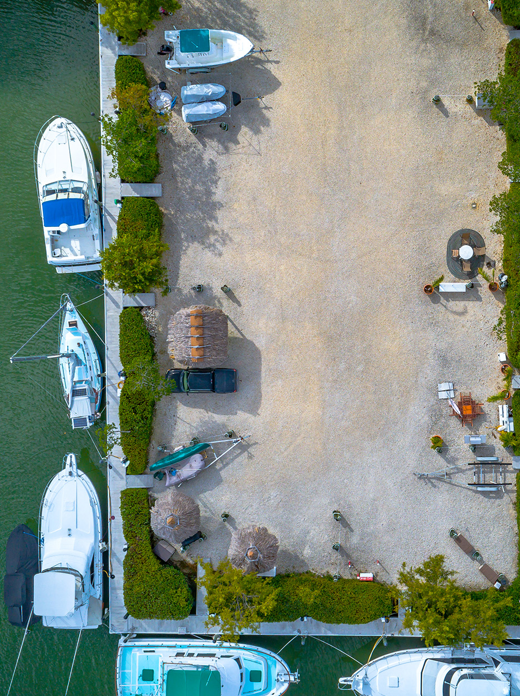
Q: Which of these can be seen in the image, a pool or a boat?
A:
boat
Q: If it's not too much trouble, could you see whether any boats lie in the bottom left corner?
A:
Yes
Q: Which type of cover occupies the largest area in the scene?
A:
paved ground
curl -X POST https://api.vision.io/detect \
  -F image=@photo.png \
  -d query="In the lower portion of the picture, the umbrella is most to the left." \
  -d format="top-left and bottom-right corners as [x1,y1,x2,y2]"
[150,491,203,542]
